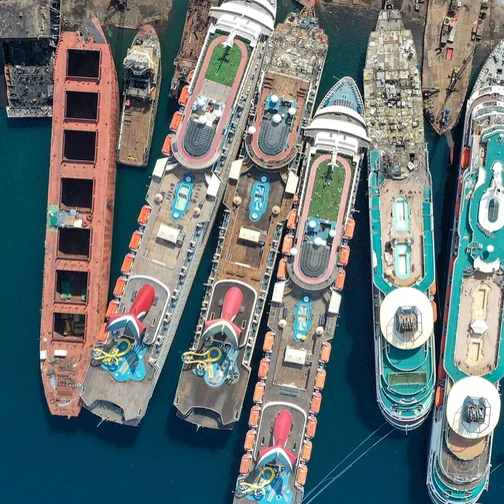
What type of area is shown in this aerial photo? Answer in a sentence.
What you see here is a port.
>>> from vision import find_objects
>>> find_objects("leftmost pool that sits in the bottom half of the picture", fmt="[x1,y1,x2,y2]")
[293,289,313,340]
